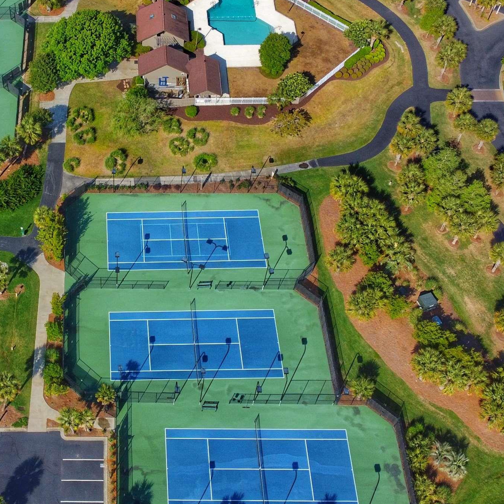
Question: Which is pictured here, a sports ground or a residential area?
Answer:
sports ground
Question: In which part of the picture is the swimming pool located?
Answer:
top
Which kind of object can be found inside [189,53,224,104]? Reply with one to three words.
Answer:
building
